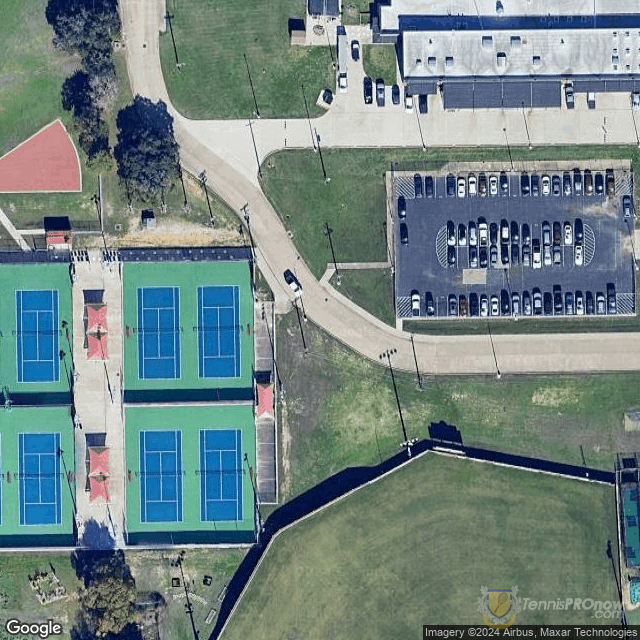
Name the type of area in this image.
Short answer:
sports ground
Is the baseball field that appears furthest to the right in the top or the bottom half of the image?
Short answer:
bottom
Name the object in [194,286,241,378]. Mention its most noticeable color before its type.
blue tennis court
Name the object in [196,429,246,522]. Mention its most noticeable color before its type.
blue tennis court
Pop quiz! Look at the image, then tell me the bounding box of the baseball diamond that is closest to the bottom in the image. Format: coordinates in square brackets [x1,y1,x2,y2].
[218,451,623,640]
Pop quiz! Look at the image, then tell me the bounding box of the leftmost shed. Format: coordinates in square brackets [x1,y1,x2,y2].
[48,229,72,246]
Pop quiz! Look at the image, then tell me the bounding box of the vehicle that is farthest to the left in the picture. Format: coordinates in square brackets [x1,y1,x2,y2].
[285,272,302,295]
